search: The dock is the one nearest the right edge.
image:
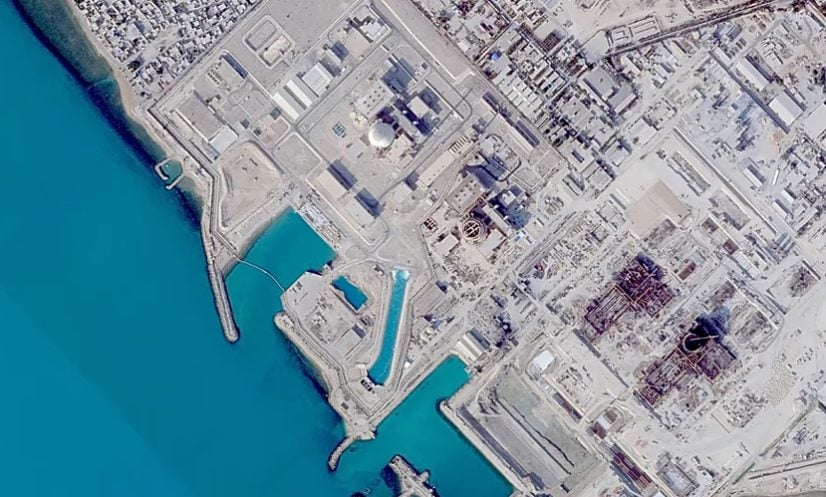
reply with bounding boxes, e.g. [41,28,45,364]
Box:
[390,455,437,497]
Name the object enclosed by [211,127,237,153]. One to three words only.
building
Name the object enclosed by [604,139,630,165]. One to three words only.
house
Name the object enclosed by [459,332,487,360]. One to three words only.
shed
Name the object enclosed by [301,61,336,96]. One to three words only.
hangar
